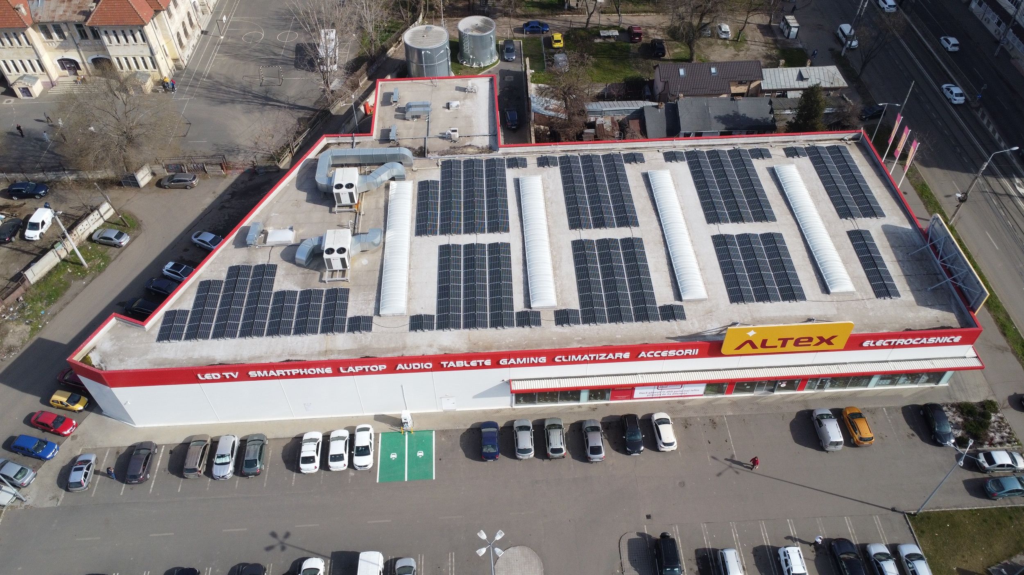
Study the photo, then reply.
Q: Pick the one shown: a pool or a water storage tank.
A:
water storage tank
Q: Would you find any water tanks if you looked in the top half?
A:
Yes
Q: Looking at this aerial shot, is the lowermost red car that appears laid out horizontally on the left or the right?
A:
left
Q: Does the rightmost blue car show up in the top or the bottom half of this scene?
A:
bottom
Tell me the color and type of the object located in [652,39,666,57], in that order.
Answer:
black car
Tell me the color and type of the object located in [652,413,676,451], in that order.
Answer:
white car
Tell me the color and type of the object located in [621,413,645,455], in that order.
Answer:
black car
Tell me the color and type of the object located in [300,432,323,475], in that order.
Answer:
white car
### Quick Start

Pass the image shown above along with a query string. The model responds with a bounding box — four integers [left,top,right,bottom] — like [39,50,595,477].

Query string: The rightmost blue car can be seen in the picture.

[983,473,1024,498]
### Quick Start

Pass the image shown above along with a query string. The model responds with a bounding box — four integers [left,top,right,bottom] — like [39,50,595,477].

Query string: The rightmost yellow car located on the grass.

[551,32,564,48]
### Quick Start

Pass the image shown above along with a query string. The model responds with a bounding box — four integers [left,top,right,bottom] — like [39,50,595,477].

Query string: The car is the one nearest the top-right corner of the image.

[939,34,962,51]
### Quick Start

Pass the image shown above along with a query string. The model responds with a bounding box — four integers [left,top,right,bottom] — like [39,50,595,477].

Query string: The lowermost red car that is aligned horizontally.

[28,409,77,436]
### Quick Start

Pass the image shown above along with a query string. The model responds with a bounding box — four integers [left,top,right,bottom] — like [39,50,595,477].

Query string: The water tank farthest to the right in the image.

[456,20,498,69]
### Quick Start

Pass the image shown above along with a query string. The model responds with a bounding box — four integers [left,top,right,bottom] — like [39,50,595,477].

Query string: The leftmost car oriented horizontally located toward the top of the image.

[7,180,47,199]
